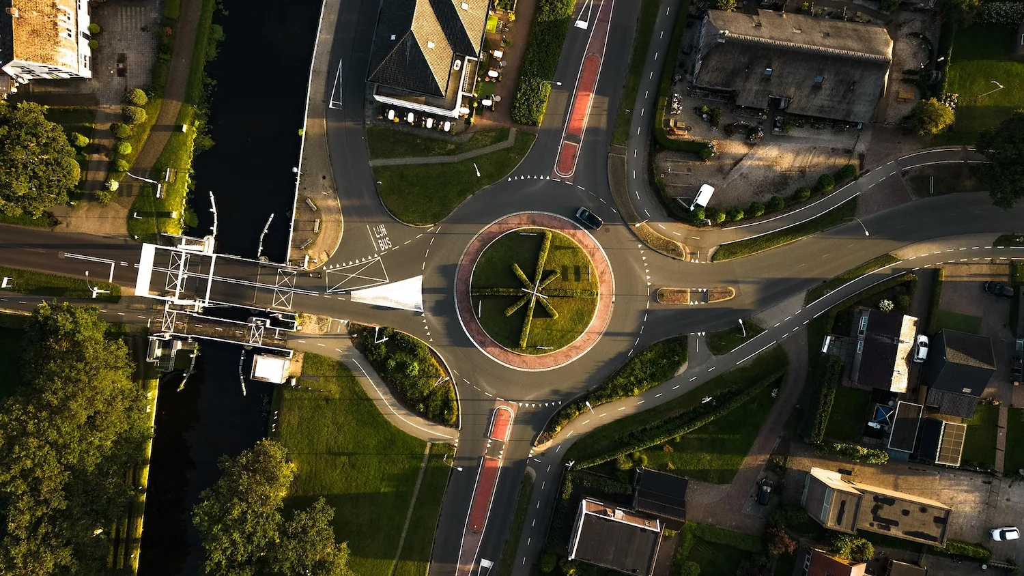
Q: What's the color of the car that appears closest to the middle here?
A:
black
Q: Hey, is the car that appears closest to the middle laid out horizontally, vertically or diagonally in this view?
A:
diagonally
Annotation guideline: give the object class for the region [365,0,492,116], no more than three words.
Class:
building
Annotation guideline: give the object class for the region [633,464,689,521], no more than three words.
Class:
building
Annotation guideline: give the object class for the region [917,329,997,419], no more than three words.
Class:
house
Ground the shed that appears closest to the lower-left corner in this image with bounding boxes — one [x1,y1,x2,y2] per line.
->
[250,353,295,384]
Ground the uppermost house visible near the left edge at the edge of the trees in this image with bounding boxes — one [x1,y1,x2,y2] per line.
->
[0,0,90,80]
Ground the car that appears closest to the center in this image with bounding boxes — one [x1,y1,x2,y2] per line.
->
[576,206,604,230]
